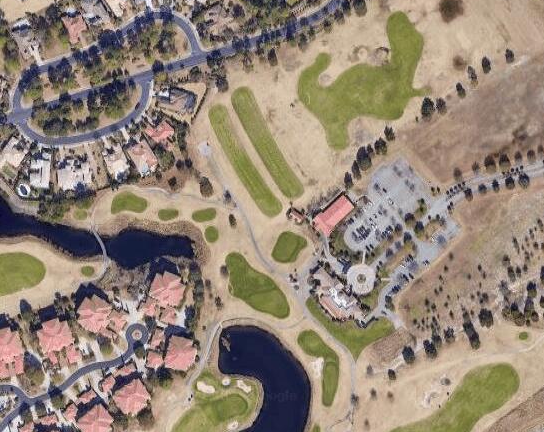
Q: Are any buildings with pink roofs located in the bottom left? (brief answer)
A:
Yes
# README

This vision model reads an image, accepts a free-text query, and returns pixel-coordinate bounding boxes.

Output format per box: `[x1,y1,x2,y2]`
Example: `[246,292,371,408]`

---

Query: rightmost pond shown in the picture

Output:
[218,325,310,432]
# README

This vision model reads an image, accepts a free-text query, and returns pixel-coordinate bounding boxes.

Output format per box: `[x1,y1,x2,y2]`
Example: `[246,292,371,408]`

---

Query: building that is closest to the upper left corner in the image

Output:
[10,23,40,66]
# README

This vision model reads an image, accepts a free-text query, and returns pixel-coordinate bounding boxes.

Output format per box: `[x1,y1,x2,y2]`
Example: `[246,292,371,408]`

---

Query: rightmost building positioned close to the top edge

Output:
[204,0,231,34]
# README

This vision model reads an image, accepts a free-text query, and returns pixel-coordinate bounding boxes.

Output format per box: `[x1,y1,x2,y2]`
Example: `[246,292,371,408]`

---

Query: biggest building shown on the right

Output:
[307,268,360,324]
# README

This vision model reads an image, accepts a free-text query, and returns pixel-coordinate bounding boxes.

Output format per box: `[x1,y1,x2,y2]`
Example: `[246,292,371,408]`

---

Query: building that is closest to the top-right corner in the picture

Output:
[314,194,352,234]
